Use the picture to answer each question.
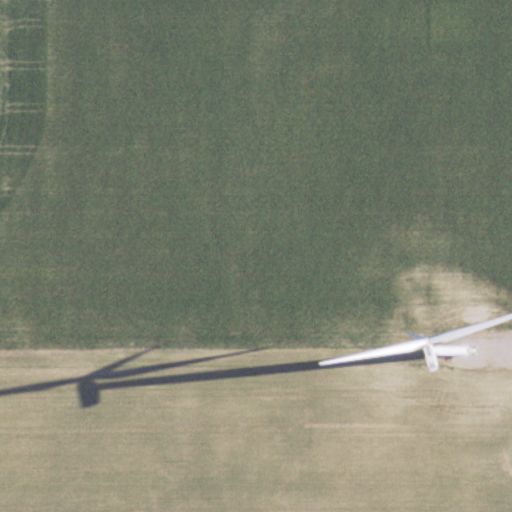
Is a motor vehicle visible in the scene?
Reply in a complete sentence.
No, I can see no motor vehicle in this picture.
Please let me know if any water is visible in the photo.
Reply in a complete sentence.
No, no water is visible.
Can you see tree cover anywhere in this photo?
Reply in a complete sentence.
No, no tree cover is visible.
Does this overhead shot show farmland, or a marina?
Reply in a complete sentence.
This image shows farmland.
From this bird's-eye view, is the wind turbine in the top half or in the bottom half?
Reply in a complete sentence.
The bottom half of the photo is where the wind turbine is.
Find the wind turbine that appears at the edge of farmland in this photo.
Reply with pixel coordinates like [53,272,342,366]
[318,316,512,372]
